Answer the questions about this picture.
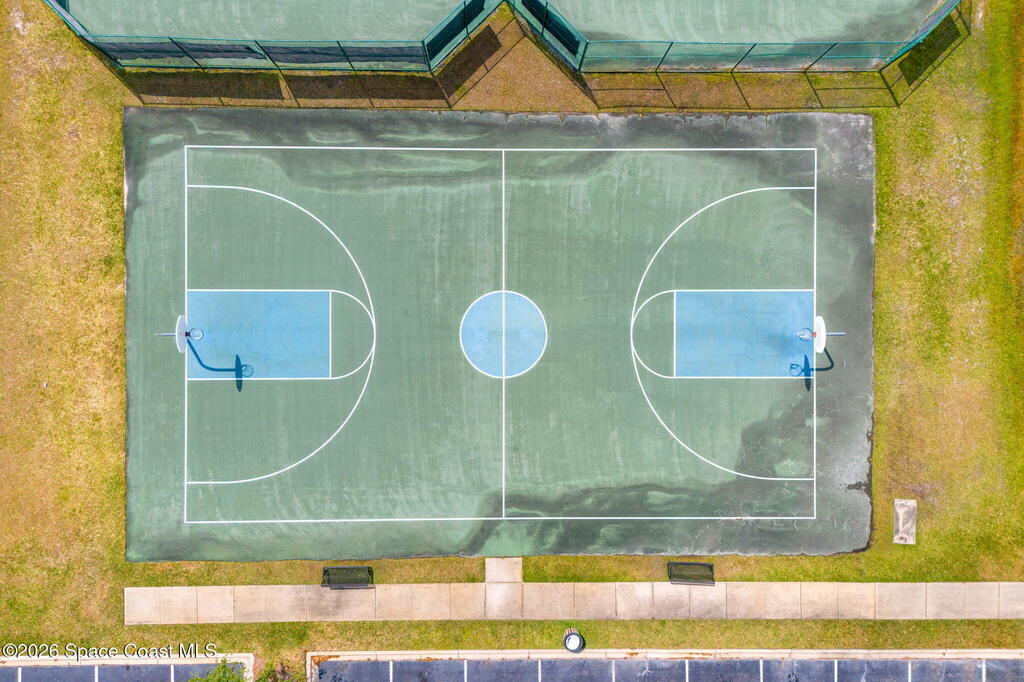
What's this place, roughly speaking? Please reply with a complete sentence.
What you see here is a sports ground.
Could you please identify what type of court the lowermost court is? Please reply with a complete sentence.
Specifically, the lowermost court is a basketball court.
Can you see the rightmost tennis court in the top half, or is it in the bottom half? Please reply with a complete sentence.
Seen from above, the rightmost tennis court lies in the top half of the view.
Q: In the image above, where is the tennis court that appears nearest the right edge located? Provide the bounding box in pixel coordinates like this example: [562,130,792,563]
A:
[508,0,948,72]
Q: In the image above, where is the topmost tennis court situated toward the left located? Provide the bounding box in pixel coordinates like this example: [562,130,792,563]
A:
[58,0,503,71]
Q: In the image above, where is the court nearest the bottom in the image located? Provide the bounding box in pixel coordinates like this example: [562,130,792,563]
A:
[123,107,875,562]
